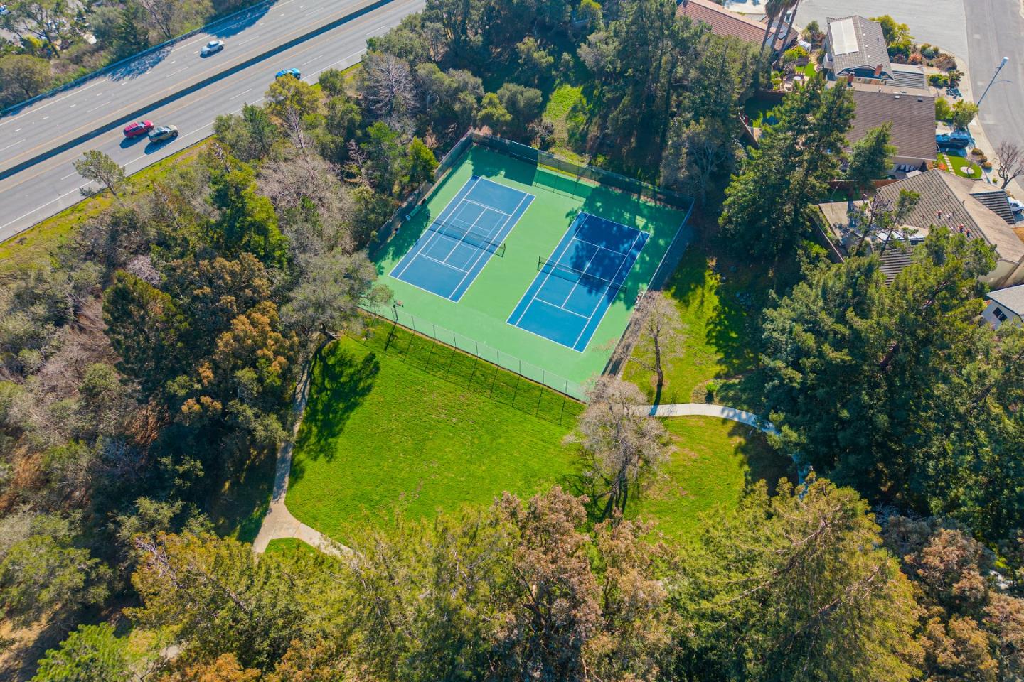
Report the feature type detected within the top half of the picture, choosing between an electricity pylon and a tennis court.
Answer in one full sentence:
What appears within the top half of the picture is a tennis court.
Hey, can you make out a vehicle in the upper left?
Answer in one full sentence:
Yes, looking in the upper left, one can make out a vehicle.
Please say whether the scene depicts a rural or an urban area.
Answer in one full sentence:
From above, the setting appears rural.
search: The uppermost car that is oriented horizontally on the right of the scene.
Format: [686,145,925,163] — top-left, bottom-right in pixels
[936,133,971,149]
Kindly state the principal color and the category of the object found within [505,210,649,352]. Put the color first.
blue tennis court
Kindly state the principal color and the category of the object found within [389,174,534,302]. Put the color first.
blue tennis court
